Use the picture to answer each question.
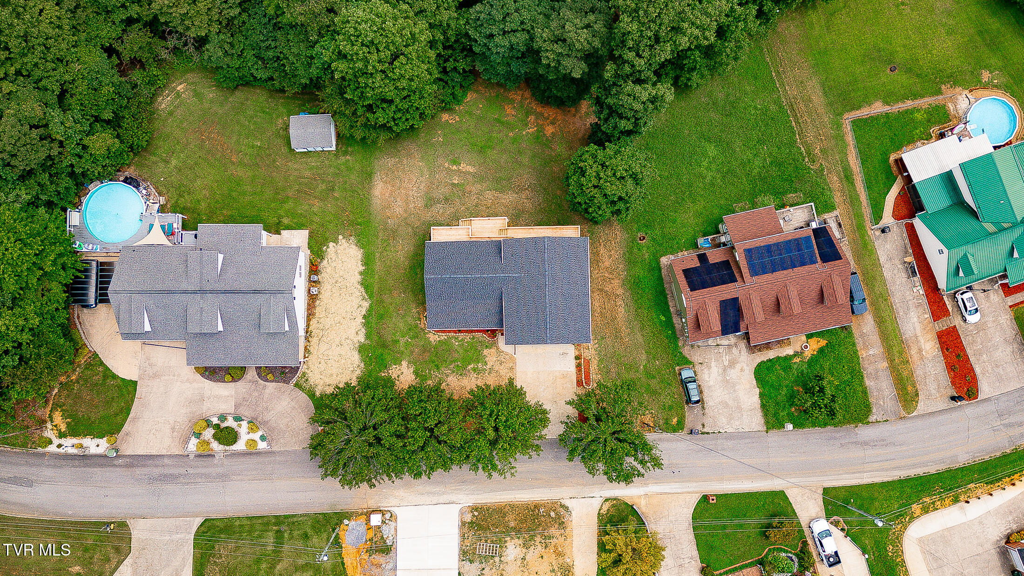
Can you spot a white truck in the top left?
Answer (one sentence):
No, there is no white truck in the top left.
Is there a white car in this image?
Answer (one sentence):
Yes, a white car appears in the view.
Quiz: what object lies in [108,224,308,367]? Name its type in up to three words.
house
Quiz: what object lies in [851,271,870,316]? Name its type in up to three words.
vehicle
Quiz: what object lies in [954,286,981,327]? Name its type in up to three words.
car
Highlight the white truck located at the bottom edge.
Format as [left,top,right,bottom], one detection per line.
[809,516,845,571]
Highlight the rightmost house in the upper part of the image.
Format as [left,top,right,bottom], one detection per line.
[904,146,1024,293]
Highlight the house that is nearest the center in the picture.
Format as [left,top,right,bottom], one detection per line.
[424,237,592,345]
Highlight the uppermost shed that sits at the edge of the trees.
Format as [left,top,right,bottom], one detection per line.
[290,114,337,153]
